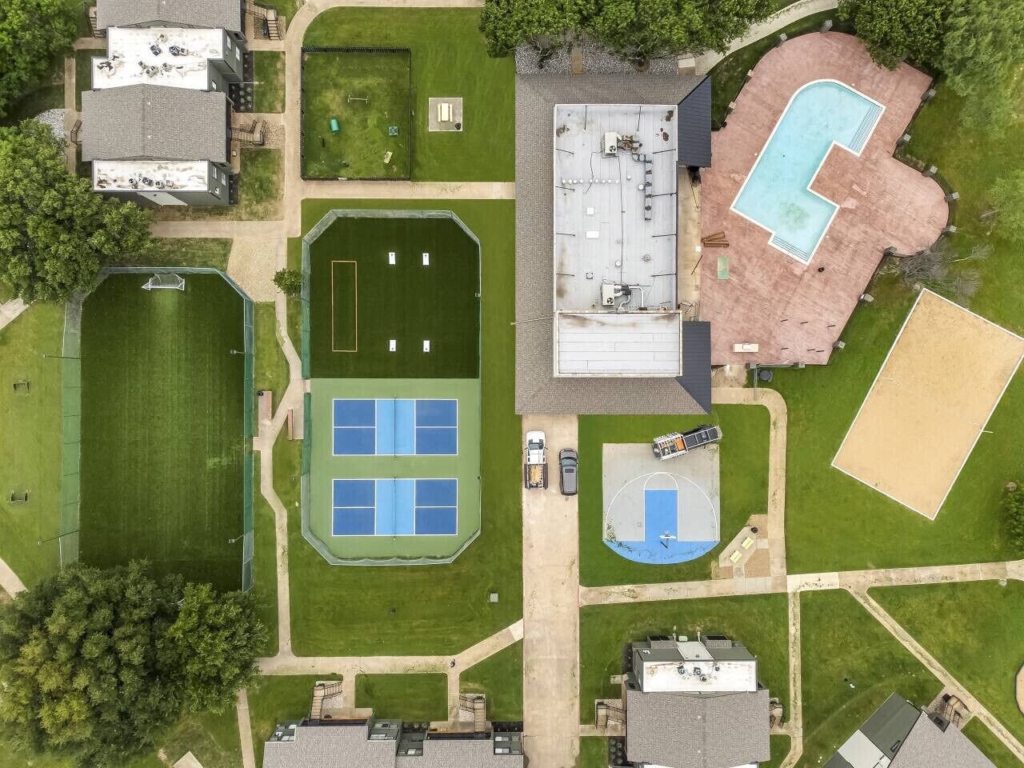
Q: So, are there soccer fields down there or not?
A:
Yes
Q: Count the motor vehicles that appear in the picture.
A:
3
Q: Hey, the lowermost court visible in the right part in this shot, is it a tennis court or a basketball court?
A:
basketball court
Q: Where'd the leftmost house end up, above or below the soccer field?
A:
above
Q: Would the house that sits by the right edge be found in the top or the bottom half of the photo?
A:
bottom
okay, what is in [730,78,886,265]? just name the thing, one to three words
swimming pool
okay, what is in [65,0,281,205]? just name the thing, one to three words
house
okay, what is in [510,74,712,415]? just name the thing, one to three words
building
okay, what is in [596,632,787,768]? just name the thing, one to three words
house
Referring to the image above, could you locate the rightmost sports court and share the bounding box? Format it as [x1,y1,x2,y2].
[832,289,1024,519]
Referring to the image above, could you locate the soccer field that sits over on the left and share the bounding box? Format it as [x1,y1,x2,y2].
[81,273,254,611]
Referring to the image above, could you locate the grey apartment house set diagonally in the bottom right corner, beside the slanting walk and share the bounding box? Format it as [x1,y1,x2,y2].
[824,687,997,768]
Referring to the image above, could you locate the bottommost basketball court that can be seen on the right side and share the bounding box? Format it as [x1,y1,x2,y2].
[603,444,719,564]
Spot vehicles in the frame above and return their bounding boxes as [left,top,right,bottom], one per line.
[524,430,548,491]
[655,425,723,461]
[558,448,581,496]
